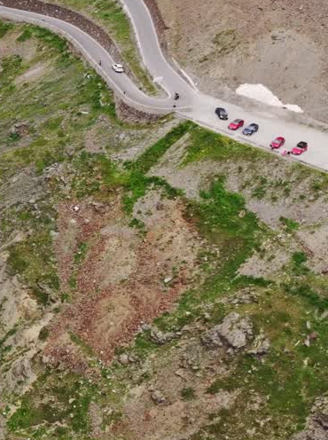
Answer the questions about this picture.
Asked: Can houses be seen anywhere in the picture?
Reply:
No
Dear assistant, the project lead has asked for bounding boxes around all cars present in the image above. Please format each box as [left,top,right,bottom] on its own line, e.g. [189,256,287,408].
[293,142,307,152]
[245,121,259,133]
[271,136,286,146]
[113,62,123,72]
[214,105,229,119]
[229,117,244,129]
